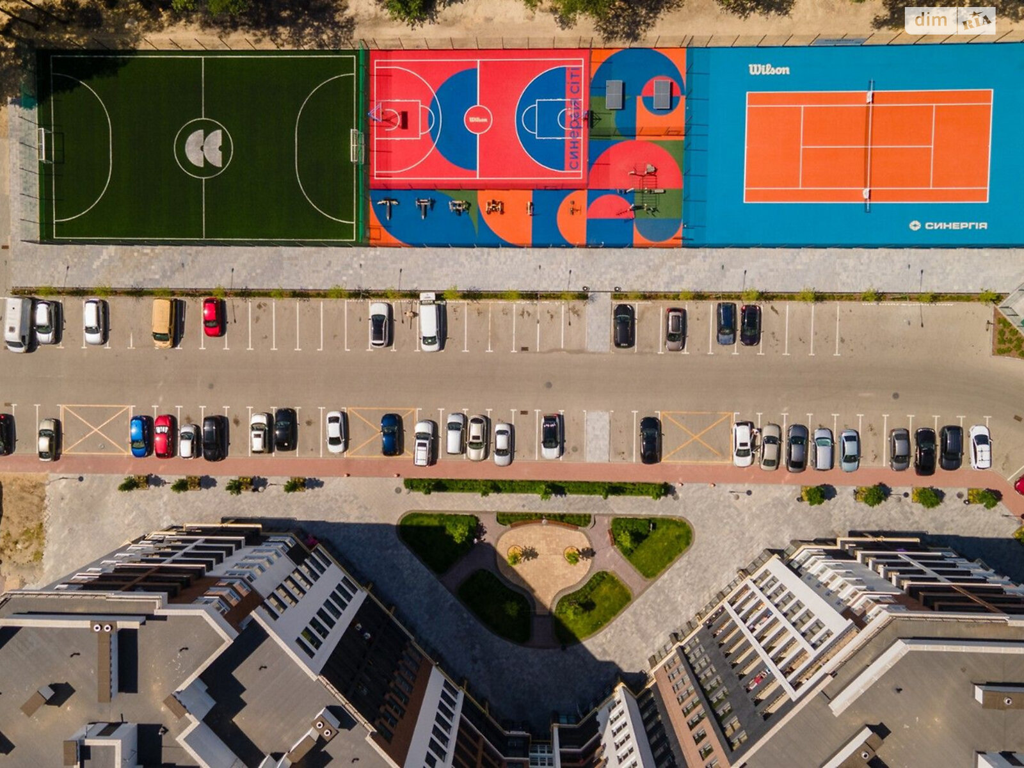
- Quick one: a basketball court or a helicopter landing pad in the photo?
basketball court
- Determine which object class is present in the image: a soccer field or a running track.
soccer field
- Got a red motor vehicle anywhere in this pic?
Yes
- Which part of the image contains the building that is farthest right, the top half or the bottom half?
bottom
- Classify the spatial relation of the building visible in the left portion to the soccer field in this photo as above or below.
below it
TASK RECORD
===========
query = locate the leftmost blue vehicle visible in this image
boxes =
[129,415,151,456]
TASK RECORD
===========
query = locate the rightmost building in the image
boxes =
[549,532,1024,768]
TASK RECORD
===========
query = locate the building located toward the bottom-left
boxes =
[0,518,552,768]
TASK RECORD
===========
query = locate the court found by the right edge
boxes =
[684,42,1024,248]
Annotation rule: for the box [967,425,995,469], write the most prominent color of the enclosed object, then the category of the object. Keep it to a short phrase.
white car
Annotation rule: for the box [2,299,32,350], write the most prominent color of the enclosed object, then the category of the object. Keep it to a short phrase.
white vehicle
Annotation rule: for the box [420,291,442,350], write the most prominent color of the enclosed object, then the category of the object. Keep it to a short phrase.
white vehicle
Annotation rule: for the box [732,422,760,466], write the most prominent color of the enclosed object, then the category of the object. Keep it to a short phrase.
white car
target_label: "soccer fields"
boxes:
[40,49,369,246]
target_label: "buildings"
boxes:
[0,518,552,768]
[549,532,1024,768]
